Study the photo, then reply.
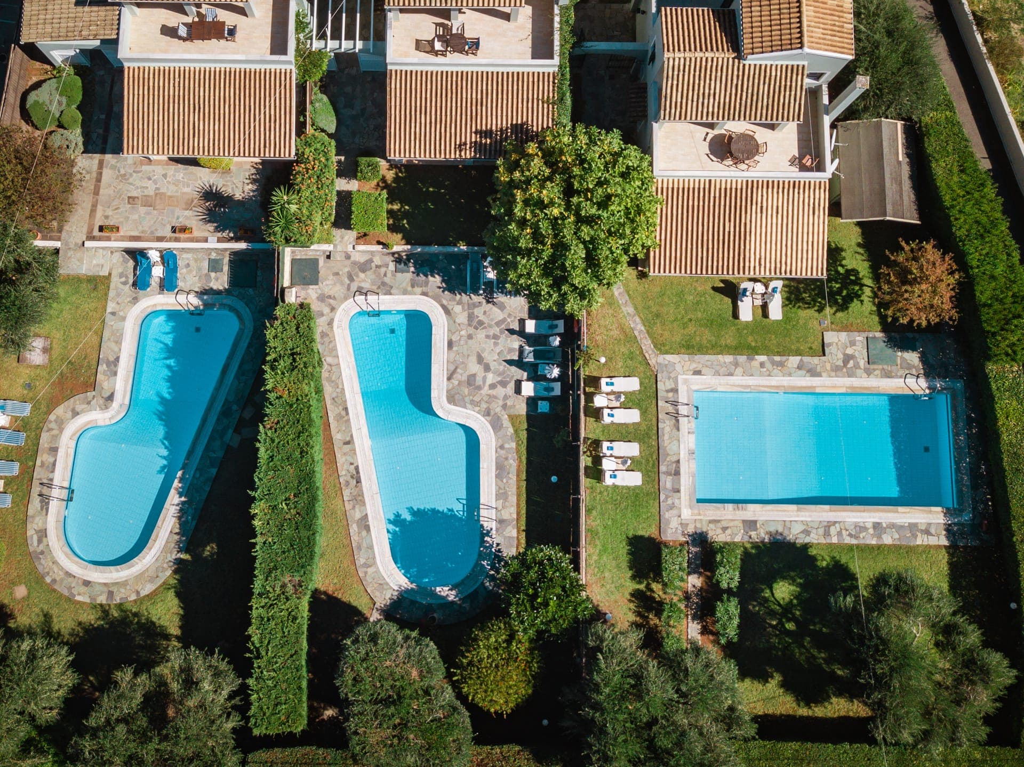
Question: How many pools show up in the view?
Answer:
three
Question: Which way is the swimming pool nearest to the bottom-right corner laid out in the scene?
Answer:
from side to side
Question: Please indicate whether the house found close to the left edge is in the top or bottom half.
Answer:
top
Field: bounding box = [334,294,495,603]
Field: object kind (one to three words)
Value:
swimming pool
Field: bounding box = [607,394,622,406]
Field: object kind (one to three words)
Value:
umbrella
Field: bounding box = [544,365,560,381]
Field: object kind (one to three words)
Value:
umbrella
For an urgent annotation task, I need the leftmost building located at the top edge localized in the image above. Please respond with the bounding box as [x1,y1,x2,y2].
[19,0,306,162]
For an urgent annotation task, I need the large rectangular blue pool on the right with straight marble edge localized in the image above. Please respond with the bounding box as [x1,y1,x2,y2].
[678,375,972,521]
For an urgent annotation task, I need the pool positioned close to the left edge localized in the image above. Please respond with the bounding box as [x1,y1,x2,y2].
[47,293,254,581]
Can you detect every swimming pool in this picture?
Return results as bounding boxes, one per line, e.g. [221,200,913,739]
[47,293,254,581]
[678,375,972,521]
[334,294,495,603]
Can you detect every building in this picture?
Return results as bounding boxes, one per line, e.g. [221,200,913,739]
[831,121,921,223]
[19,0,306,162]
[383,0,560,165]
[613,0,856,279]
